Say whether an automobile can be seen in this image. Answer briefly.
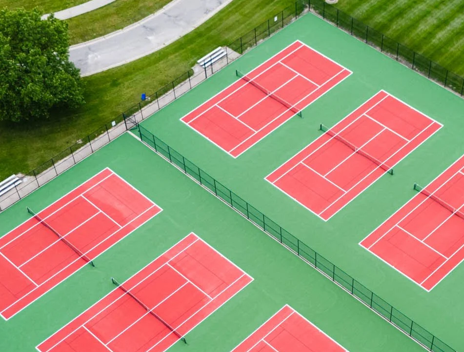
No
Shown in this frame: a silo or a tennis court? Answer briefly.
tennis court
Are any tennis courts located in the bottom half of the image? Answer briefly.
Yes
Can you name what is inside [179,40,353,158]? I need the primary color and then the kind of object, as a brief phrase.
red tennis court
